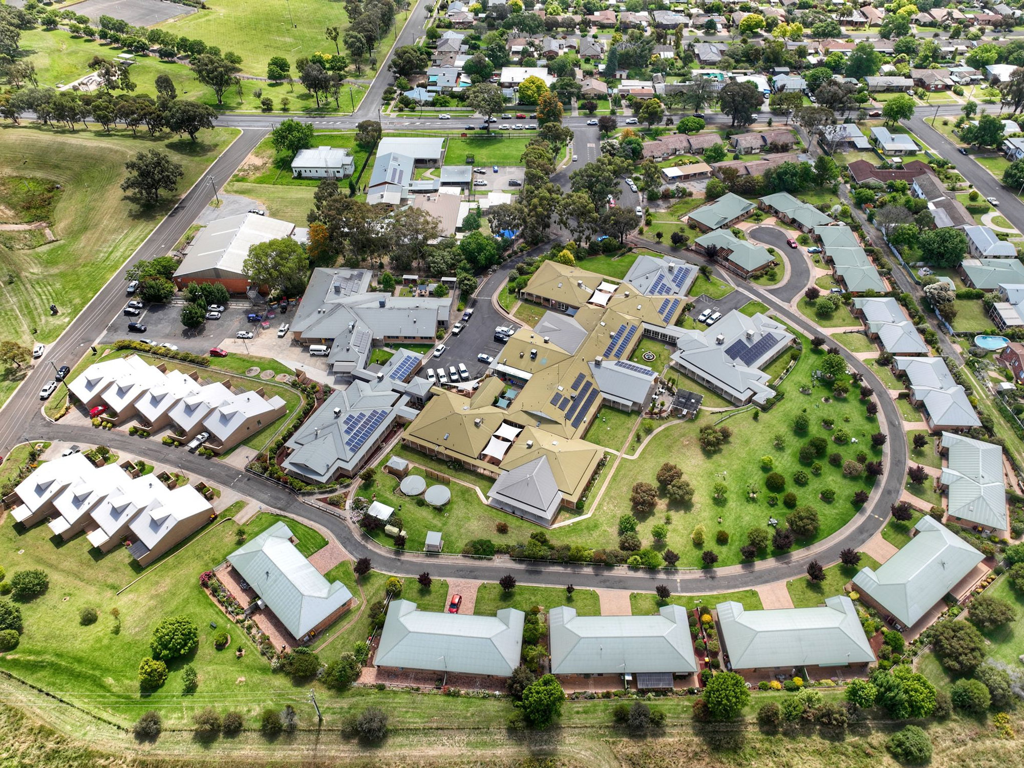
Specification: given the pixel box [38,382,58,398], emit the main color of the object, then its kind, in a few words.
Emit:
white vehicle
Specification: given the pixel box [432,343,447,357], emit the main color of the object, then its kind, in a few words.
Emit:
white car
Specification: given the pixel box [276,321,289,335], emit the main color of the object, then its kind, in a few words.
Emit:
white vehicle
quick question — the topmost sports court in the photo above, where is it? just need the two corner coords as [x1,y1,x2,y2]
[58,0,191,26]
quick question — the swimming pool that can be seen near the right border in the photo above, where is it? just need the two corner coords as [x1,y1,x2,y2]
[971,336,1008,353]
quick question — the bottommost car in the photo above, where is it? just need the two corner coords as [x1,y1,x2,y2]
[449,592,462,614]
